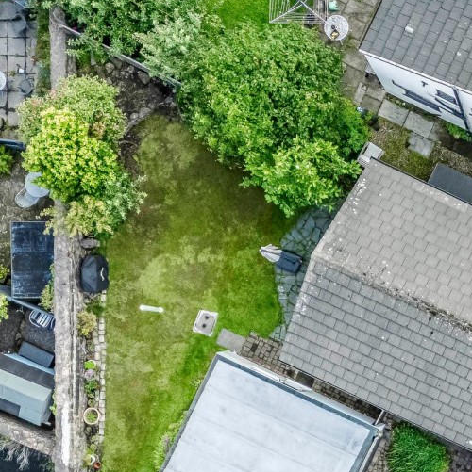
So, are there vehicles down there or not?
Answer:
No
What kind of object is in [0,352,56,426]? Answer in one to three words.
shed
